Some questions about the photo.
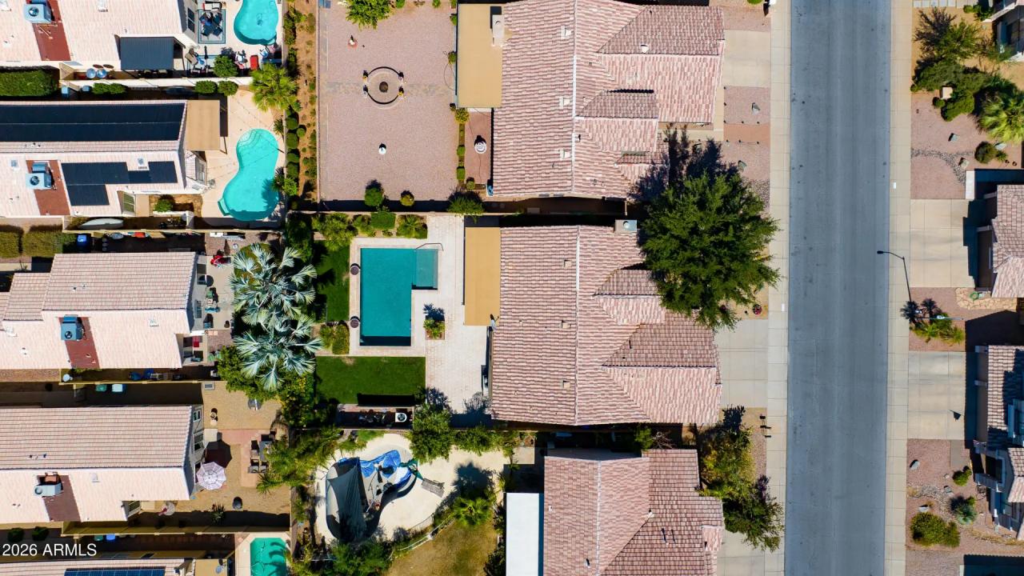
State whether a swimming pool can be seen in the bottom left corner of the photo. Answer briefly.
Yes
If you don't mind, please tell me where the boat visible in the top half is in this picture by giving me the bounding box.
[77,217,127,230]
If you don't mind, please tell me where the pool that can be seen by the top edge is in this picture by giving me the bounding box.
[229,0,280,48]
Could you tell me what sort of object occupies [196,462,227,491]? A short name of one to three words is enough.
umbrella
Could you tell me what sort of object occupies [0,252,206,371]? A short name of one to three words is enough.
house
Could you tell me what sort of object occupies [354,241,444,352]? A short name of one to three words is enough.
swimming pool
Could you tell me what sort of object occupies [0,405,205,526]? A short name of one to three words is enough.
house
